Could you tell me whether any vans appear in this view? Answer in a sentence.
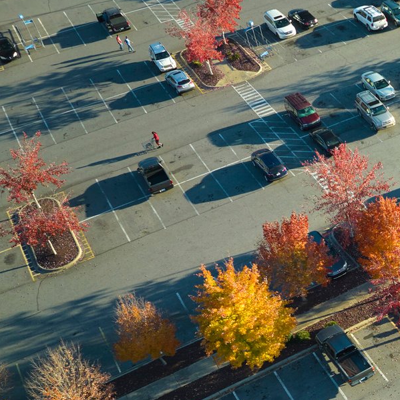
Yes, the image includes a van.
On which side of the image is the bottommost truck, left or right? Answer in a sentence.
The bottommost truck appears in the right half of the scene.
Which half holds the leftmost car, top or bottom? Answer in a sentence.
You can find the leftmost car in the top half.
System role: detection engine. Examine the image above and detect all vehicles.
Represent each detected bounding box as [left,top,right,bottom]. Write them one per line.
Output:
[356,90,397,130]
[314,323,383,396]
[306,124,348,159]
[359,70,400,102]
[146,41,181,75]
[0,38,24,65]
[98,6,133,36]
[288,8,321,32]
[280,90,323,133]
[250,148,290,186]
[165,70,196,97]
[131,150,175,197]
[355,6,390,33]
[376,0,400,27]
[262,8,299,40]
